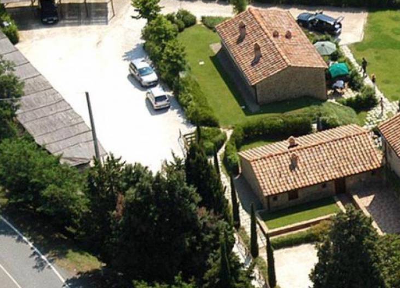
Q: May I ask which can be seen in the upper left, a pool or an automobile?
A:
automobile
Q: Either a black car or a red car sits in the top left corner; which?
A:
black car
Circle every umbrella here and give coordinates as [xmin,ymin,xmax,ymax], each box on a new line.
[315,44,335,59]
[328,68,347,81]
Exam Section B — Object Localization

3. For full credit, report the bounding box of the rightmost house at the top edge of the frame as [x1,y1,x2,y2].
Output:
[213,7,330,103]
